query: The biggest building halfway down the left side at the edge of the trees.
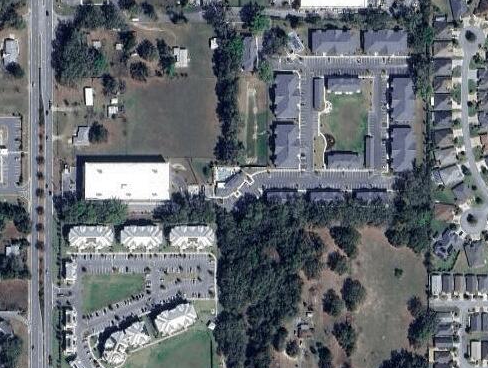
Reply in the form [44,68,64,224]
[83,160,170,200]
